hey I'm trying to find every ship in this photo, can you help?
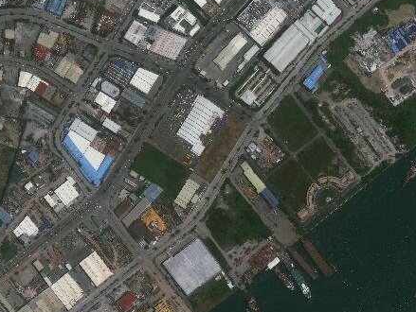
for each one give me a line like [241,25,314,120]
[248,294,261,312]
[400,163,416,187]
[301,240,335,276]
[291,268,311,300]
[288,249,316,280]
[274,266,294,292]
